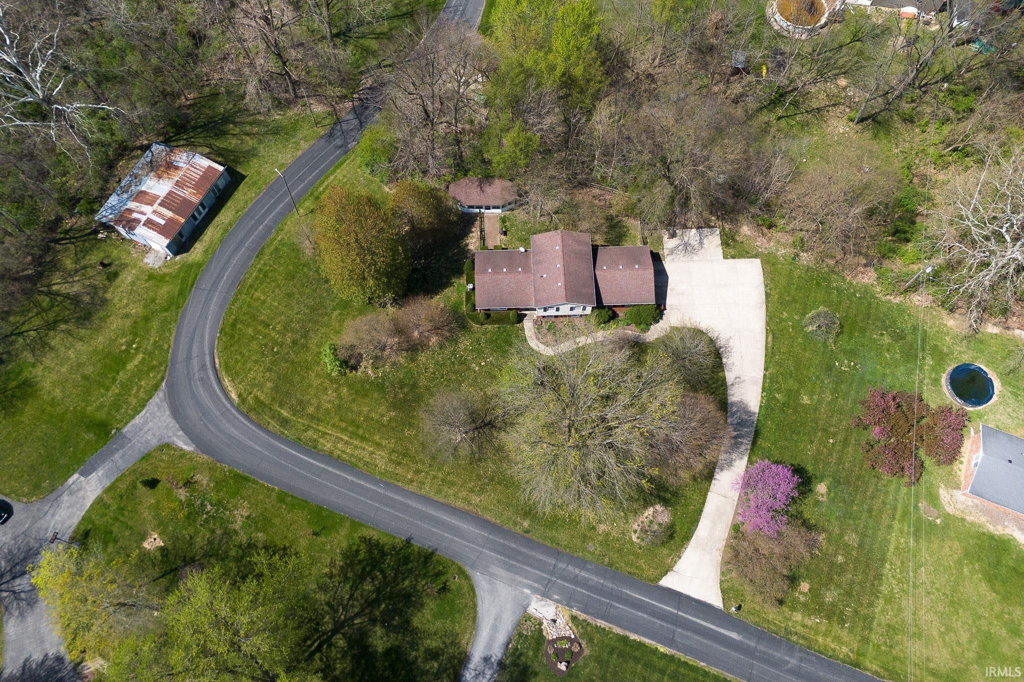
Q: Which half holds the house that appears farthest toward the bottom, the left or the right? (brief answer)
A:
right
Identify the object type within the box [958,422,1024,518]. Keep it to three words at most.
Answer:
house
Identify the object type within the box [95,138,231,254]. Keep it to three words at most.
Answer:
barn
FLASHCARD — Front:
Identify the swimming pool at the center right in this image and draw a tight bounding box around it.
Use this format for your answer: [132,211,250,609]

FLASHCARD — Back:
[943,363,996,410]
